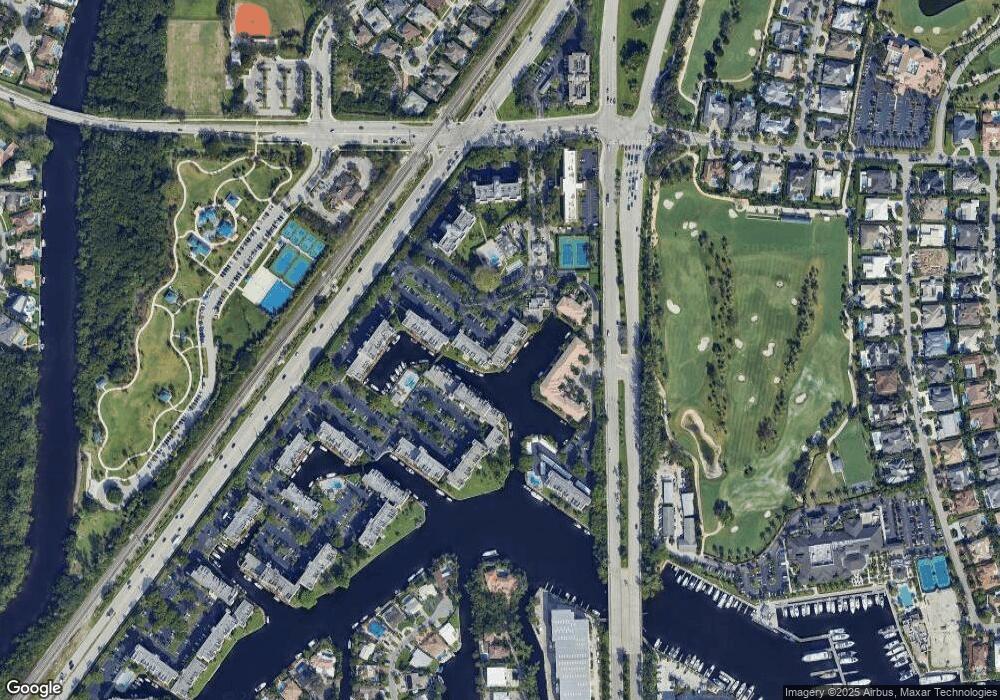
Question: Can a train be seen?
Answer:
No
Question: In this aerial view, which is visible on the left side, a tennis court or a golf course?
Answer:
tennis court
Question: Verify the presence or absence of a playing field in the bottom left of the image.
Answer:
No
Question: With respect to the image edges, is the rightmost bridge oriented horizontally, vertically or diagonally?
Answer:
vertically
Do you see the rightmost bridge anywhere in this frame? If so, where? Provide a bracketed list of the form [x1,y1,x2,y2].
[607,566,644,655]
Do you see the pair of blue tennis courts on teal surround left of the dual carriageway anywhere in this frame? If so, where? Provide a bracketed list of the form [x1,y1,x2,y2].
[559,235,590,268]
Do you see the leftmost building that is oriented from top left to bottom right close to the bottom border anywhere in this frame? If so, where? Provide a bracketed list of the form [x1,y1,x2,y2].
[131,645,178,686]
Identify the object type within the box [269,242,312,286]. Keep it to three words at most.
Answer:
tennis court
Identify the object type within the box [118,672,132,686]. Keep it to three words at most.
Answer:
swimming pool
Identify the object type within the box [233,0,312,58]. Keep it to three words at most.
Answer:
baseball field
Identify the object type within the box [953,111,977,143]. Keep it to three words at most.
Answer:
house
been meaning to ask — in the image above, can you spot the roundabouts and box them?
[96,475,130,509]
